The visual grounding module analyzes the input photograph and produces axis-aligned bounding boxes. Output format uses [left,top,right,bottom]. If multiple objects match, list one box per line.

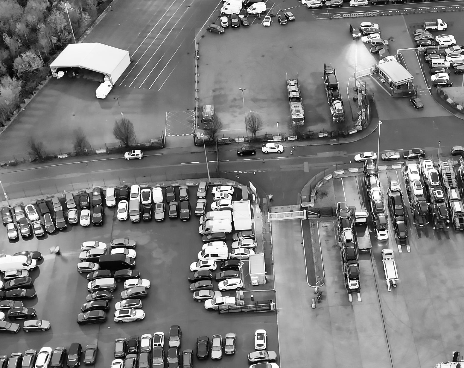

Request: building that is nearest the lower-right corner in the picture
[248,248,266,283]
